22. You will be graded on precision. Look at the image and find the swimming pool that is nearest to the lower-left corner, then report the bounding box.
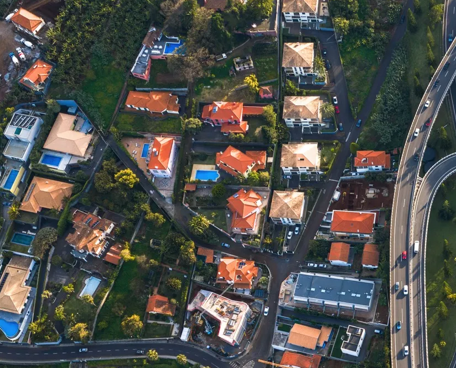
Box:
[0,317,19,338]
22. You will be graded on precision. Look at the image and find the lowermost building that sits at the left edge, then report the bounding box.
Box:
[0,255,37,316]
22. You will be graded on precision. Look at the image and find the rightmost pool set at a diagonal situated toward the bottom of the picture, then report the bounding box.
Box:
[77,276,103,298]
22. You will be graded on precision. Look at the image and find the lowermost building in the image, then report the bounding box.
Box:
[280,349,322,368]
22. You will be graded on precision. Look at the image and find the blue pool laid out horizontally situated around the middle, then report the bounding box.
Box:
[193,169,220,182]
